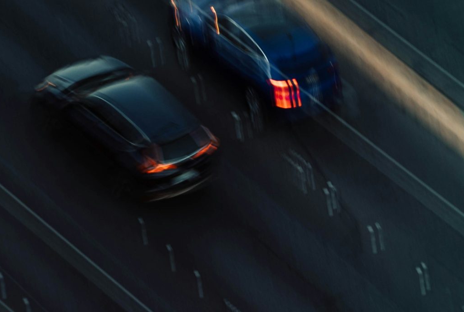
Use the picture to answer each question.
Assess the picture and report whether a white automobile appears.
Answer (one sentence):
No, I can't see a single white automobile in this photo.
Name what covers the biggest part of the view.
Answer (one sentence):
The bulk of the photo consists of paved ground.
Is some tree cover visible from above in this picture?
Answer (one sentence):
No, there is no tree cover in the image.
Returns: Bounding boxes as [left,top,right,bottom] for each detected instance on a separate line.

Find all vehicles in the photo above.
[41,54,213,189]
[172,0,341,119]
